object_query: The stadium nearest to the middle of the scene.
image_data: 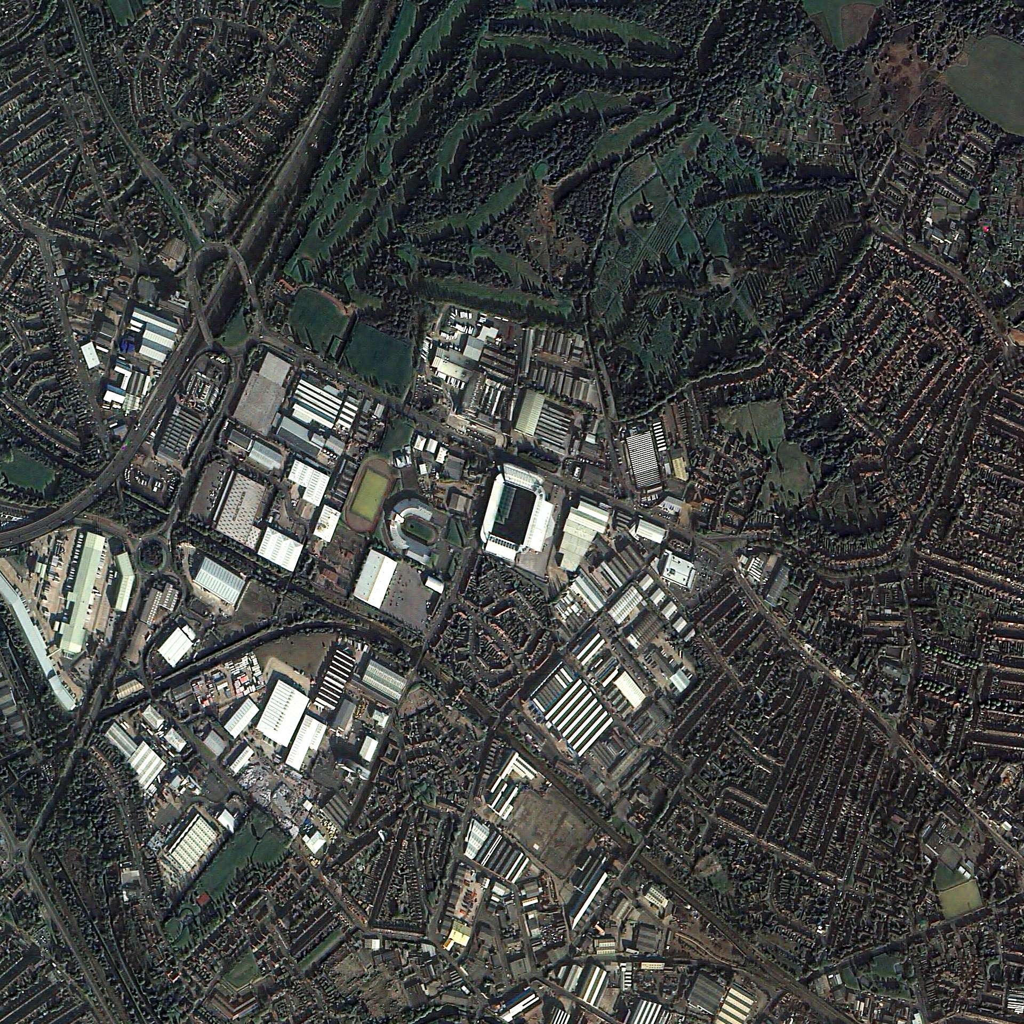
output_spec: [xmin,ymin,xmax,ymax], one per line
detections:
[480,464,555,561]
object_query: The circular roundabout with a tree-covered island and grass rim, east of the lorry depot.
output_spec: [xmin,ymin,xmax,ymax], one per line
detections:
[134,536,170,573]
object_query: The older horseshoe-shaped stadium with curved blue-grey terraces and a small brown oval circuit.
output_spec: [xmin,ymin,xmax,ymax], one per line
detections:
[382,498,454,564]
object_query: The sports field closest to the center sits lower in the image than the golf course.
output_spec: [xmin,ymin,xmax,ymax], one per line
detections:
[493,490,534,545]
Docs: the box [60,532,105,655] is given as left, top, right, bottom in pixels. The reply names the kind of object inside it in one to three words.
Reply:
shed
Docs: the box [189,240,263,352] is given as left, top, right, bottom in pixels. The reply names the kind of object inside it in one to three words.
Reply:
roundabout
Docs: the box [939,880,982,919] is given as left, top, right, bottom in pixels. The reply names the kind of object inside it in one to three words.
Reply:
sports field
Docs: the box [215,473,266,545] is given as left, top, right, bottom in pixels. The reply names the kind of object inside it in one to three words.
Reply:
building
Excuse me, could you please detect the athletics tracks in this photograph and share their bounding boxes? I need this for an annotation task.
[343,454,394,532]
